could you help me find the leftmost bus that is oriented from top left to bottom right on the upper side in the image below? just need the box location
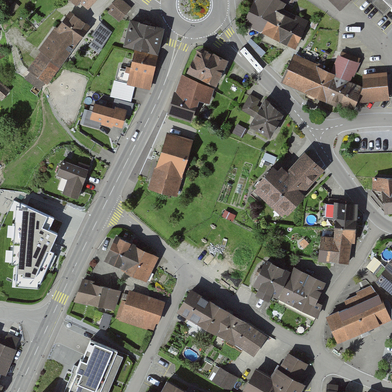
[240,46,264,72]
